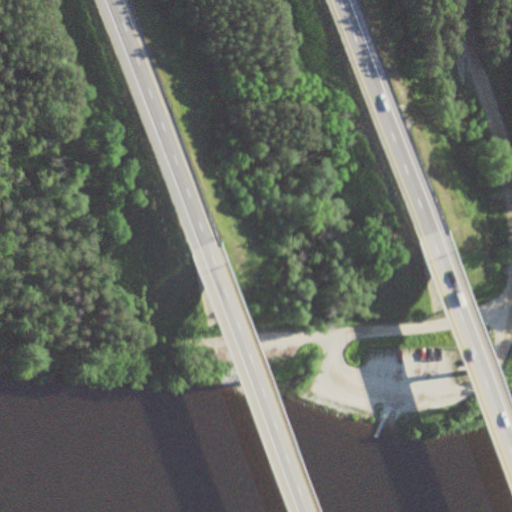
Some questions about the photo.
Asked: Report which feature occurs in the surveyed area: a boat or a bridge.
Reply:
bridge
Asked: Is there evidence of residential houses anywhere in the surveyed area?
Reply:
No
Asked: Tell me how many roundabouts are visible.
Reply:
0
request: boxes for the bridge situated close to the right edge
[417,226,512,498]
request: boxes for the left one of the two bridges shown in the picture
[192,238,326,512]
